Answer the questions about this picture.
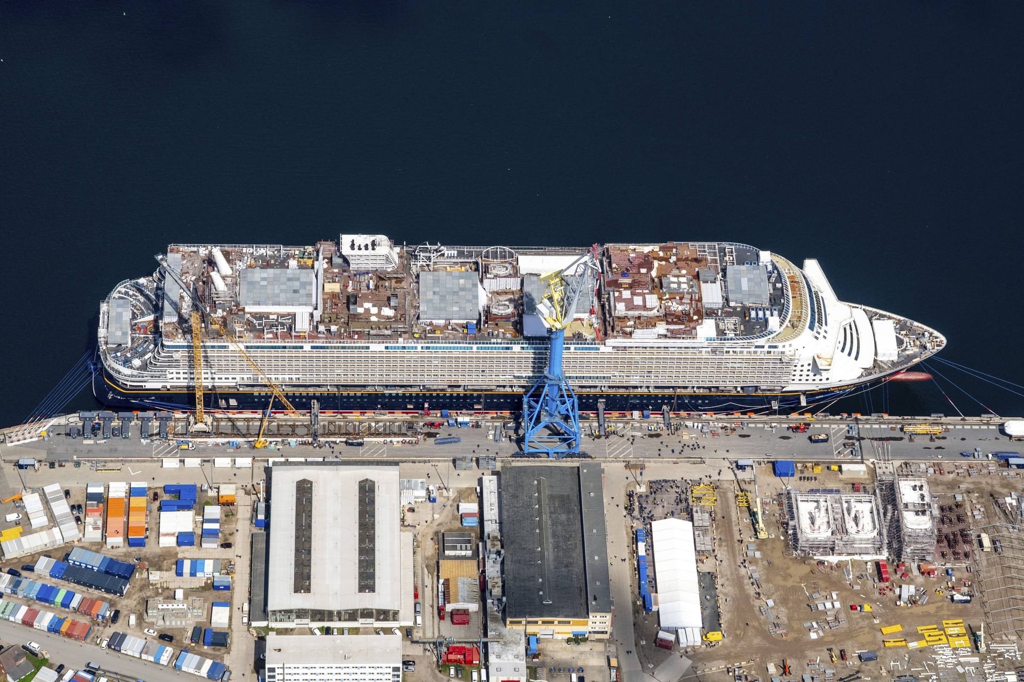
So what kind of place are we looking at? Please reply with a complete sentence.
The picture captures a port.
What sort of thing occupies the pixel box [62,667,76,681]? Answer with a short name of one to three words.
vehicle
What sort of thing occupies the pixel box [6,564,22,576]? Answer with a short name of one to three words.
vehicle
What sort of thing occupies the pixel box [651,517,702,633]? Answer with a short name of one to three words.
tent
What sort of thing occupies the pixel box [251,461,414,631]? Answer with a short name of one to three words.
building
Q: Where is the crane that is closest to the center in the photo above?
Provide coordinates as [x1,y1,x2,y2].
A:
[508,243,602,462]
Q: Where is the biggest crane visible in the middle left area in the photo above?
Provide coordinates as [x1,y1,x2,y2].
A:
[157,256,300,436]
